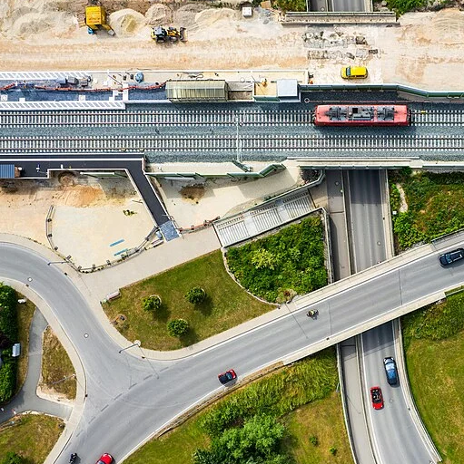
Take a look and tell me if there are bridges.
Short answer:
Yes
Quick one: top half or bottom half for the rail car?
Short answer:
top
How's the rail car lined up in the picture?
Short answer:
from left to right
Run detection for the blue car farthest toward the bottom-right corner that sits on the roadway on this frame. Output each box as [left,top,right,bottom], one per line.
[383,356,397,383]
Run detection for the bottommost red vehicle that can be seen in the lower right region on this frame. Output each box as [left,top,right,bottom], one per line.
[371,386,383,410]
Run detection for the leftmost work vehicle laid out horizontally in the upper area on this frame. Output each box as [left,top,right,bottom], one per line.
[150,26,187,44]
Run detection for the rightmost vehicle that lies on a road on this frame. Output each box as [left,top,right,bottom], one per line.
[438,247,464,265]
